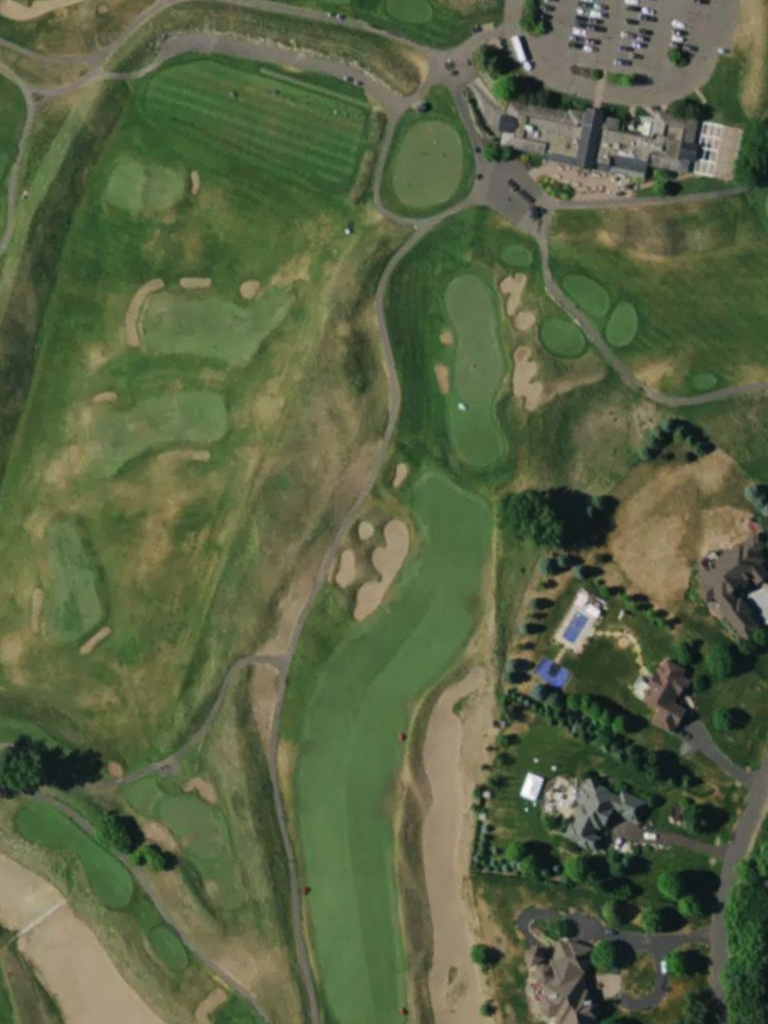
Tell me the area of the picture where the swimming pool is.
right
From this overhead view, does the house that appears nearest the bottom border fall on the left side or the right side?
right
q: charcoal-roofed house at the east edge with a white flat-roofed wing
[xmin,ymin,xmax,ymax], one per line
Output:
[713,527,768,625]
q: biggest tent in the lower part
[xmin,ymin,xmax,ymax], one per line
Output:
[520,773,544,801]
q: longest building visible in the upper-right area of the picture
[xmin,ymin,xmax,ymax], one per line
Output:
[500,103,702,180]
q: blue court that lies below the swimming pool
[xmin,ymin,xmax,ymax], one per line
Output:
[536,656,570,688]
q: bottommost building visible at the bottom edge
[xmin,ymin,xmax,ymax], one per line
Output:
[524,933,596,1024]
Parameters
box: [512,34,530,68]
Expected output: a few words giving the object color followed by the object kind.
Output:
white vehicle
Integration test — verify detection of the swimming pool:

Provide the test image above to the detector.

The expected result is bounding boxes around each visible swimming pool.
[556,588,600,653]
